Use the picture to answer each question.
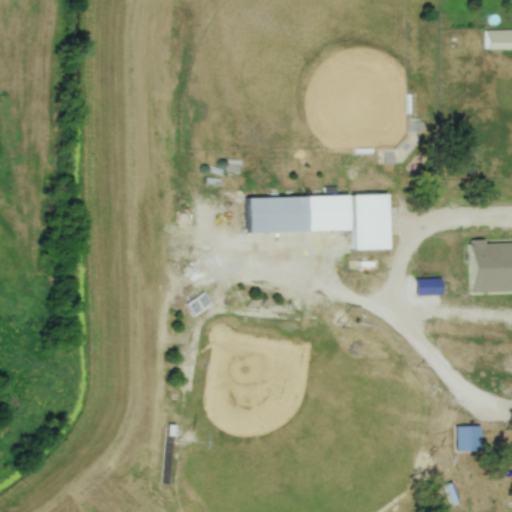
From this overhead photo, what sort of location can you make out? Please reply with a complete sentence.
This image shows a sports ground.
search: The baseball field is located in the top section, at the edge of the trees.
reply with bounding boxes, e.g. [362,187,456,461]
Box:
[193,0,407,151]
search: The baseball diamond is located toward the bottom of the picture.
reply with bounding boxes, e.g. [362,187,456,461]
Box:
[179,312,428,512]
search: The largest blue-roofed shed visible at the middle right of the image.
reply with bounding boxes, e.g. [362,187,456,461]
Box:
[414,278,446,295]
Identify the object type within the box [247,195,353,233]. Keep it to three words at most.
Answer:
barn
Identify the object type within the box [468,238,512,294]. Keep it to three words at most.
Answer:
house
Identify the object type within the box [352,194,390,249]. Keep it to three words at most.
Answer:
barn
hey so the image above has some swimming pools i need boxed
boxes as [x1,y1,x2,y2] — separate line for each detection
[484,13,500,27]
